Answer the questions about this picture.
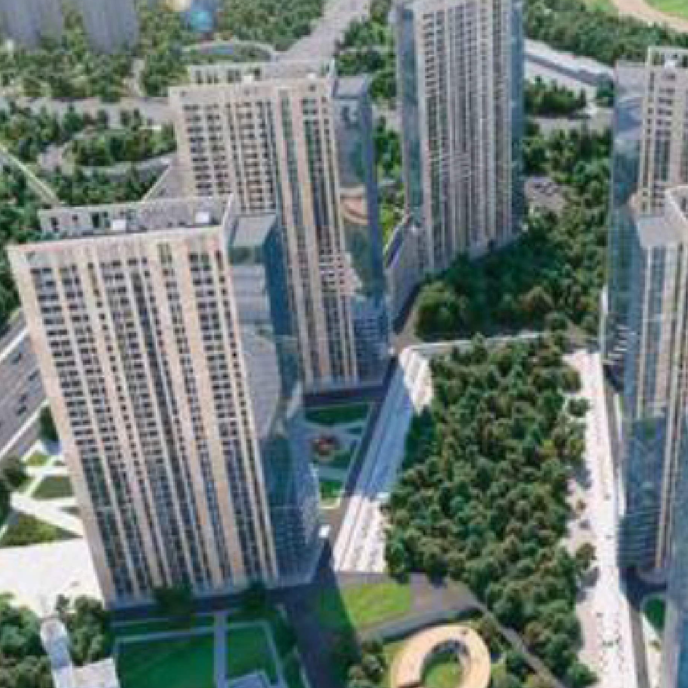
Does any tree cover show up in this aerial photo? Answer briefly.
Yes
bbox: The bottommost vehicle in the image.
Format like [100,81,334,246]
[317,526,332,540]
